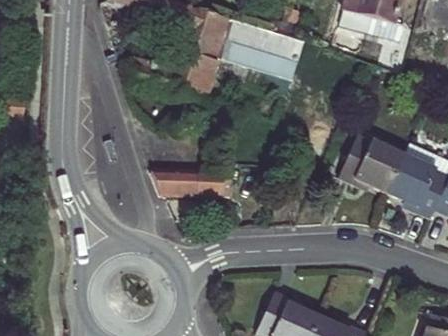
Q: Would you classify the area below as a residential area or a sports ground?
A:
residential area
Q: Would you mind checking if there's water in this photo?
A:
No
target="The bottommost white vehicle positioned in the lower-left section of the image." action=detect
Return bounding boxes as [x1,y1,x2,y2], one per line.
[75,230,88,264]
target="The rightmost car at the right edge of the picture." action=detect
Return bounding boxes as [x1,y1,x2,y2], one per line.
[430,218,442,238]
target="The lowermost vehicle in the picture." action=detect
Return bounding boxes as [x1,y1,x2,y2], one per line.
[356,304,371,326]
